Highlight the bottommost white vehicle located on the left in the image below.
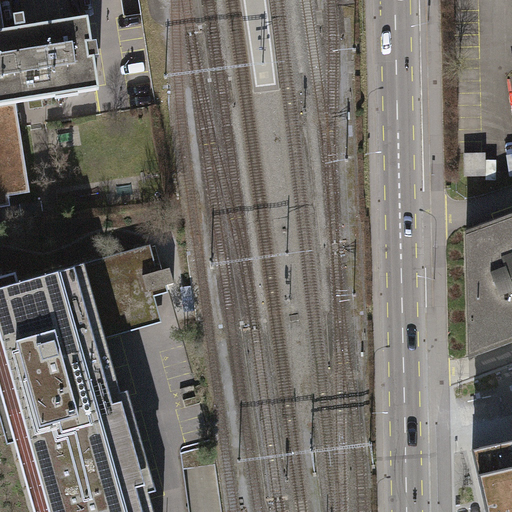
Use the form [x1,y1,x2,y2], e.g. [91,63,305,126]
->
[120,63,146,75]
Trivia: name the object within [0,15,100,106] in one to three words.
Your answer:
building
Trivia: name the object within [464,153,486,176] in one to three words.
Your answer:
shed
